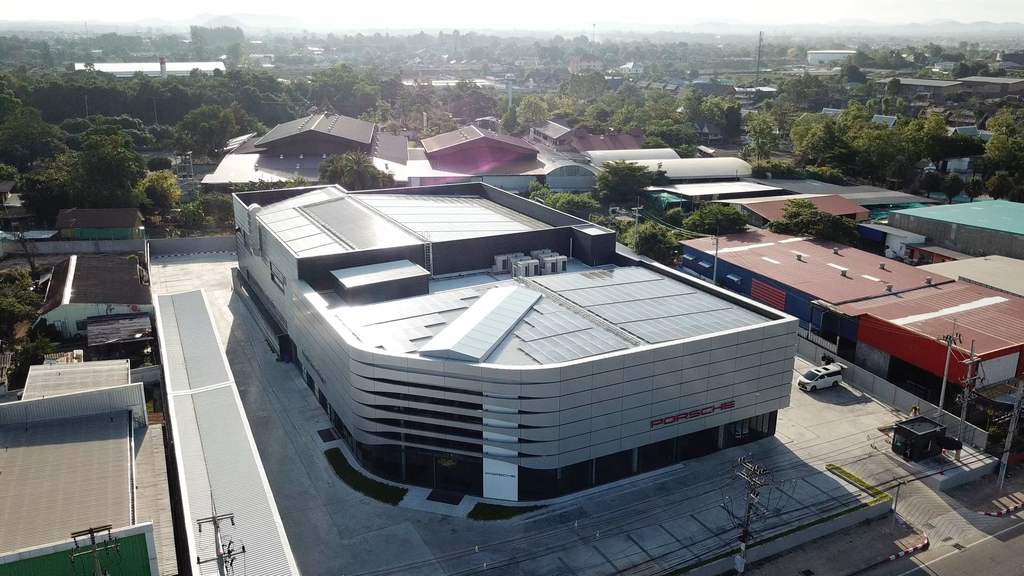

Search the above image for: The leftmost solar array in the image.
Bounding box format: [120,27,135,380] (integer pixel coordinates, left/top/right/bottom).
[251,195,344,256]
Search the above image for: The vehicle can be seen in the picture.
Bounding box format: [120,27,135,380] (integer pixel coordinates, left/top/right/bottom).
[796,362,846,391]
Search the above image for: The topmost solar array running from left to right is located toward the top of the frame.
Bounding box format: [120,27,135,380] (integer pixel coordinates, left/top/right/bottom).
[358,194,551,240]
